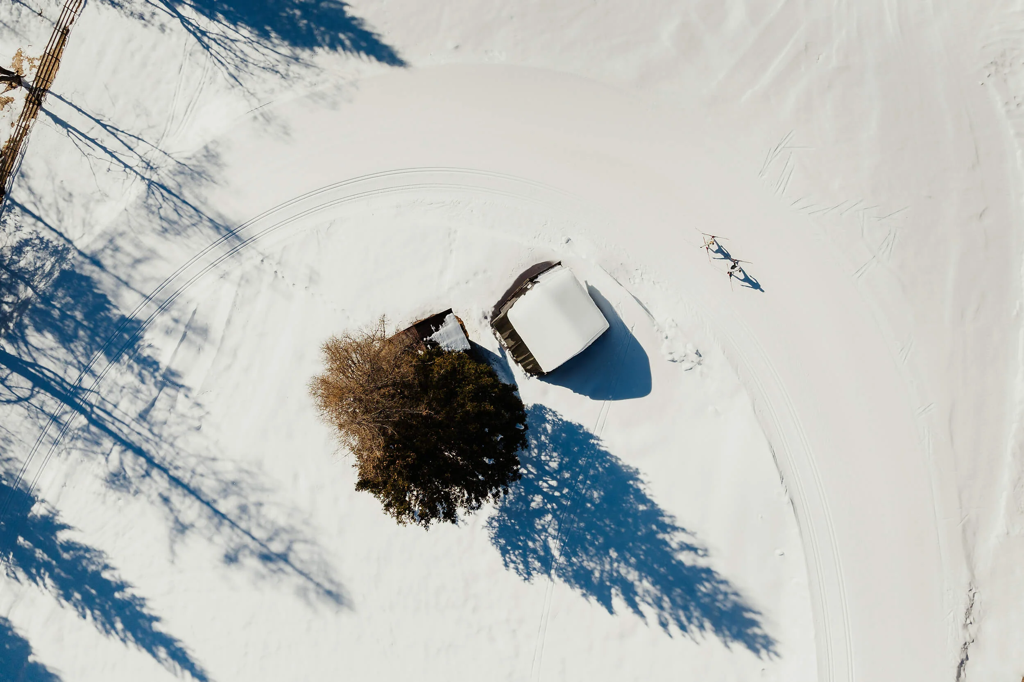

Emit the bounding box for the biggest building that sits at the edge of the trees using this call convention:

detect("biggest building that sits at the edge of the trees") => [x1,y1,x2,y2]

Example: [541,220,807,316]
[493,261,609,373]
